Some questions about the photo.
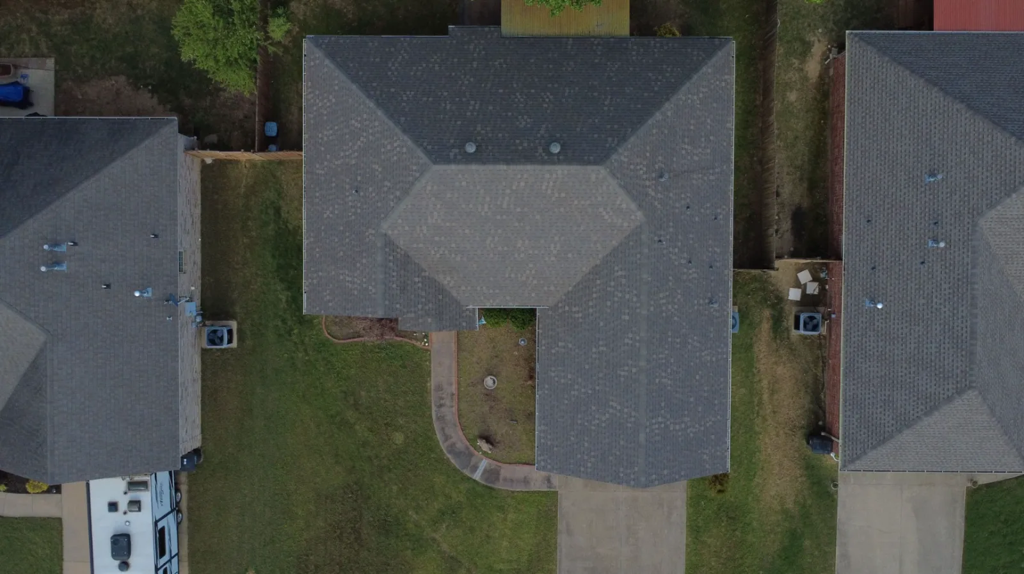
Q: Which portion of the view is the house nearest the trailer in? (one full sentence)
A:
The house nearest the trailer sits in the left section of the image.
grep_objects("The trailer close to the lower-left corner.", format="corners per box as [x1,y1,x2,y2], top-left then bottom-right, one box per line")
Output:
[85,470,186,574]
